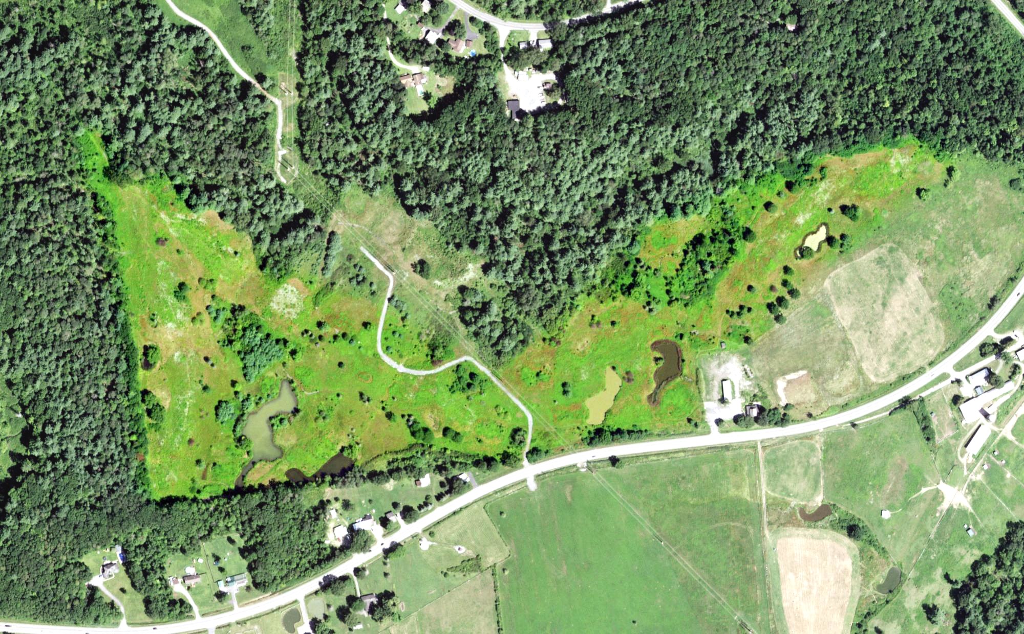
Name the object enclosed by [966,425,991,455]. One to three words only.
barn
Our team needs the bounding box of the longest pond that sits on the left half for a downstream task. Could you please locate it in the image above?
[245,381,297,462]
